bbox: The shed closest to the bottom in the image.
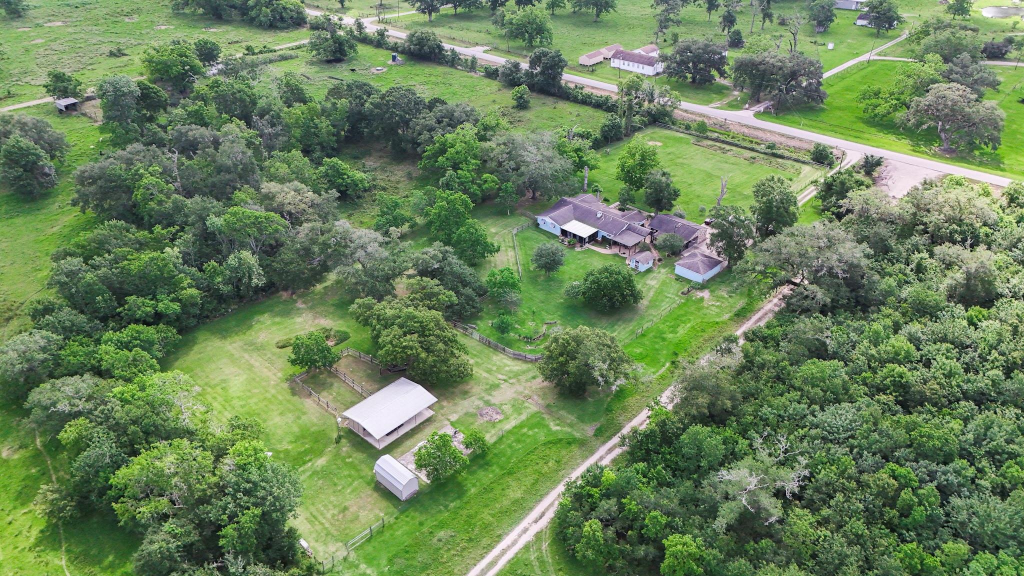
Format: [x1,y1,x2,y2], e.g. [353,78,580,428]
[373,456,419,502]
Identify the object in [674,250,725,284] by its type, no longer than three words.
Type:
building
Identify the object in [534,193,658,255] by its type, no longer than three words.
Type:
house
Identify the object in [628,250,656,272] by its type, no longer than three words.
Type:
shed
